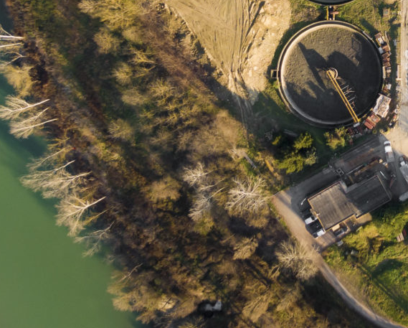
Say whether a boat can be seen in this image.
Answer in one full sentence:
No, no boat is visible in the scene.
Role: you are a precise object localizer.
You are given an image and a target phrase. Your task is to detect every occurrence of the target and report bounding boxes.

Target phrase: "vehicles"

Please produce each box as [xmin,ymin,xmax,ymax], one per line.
[398,159,408,183]
[303,215,319,228]
[382,141,393,163]
[298,208,314,219]
[311,228,327,240]
[307,222,323,233]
